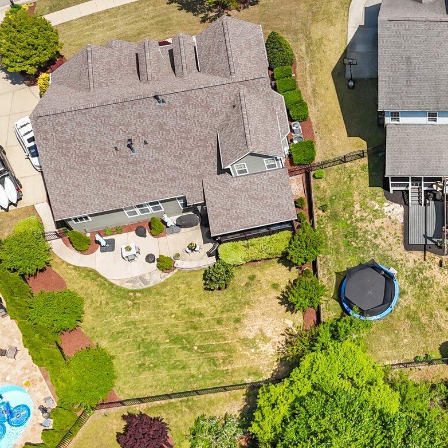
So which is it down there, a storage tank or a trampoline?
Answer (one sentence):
There is a trampoline in the scene.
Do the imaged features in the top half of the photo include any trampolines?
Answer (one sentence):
No, no trampoline can be made out in the top half of the photo.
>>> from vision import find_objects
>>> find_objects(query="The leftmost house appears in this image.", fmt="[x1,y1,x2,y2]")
[33,15,298,259]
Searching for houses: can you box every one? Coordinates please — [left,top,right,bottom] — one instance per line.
[378,0,448,206]
[33,15,298,259]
